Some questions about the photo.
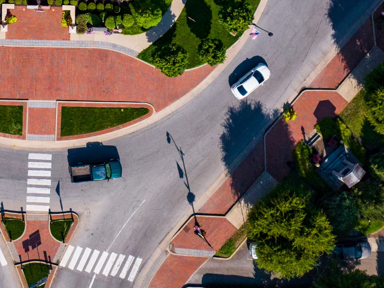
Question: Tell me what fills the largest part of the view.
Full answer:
What you mostly see from above here is paved ground.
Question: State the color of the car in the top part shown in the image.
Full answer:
The car in the top part looks white in the image.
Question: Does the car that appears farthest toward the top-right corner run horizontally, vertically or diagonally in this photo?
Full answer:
Seen from above, the car that appears farthest toward the top-right corner lies diagonally.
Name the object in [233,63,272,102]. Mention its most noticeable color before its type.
white car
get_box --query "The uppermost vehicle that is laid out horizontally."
[70,160,121,183]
